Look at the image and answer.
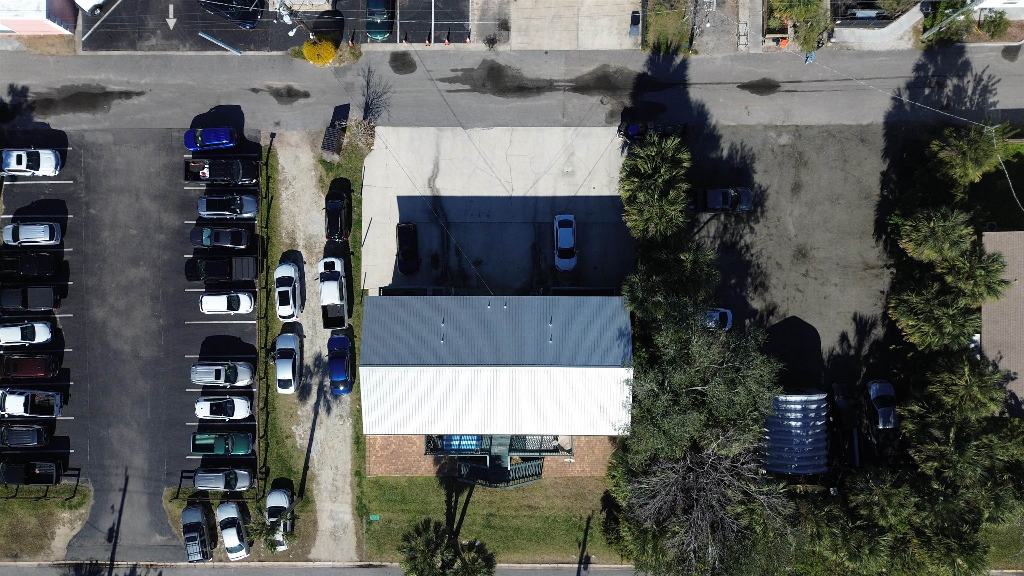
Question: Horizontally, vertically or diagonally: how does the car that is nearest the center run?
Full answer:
In this picture, the car that is nearest the center is oriented vertically.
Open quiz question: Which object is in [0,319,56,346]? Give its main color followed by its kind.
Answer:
white car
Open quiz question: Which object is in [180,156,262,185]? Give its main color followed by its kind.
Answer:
black truck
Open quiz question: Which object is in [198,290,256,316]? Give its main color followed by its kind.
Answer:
white car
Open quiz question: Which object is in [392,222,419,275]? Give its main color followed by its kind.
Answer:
black car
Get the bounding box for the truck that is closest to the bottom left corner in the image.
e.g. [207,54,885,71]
[0,459,66,489]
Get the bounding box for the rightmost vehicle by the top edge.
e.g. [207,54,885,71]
[364,0,392,43]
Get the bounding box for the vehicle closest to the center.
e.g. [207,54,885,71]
[552,214,580,272]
